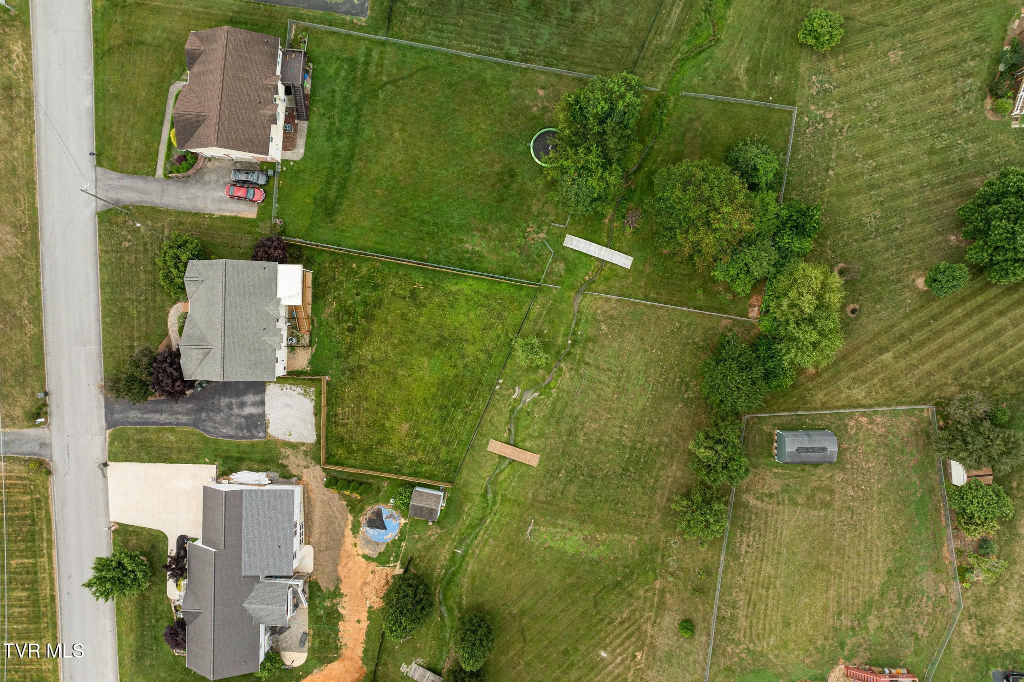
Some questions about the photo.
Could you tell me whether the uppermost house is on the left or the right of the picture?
left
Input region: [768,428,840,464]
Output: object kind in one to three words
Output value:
shed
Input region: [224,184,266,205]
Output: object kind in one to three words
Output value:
car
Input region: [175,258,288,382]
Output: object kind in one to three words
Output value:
house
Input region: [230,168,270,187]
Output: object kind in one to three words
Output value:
car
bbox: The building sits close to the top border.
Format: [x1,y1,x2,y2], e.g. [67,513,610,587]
[172,25,288,164]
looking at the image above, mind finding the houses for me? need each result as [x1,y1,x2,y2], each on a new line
[175,258,288,382]
[172,25,288,164]
[178,484,305,681]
